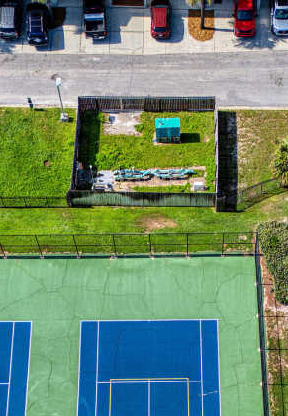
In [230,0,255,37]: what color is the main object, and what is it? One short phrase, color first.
red truck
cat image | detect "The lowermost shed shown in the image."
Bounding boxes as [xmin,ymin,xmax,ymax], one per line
[156,117,179,141]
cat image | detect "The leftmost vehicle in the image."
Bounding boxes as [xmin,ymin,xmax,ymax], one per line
[0,1,23,41]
